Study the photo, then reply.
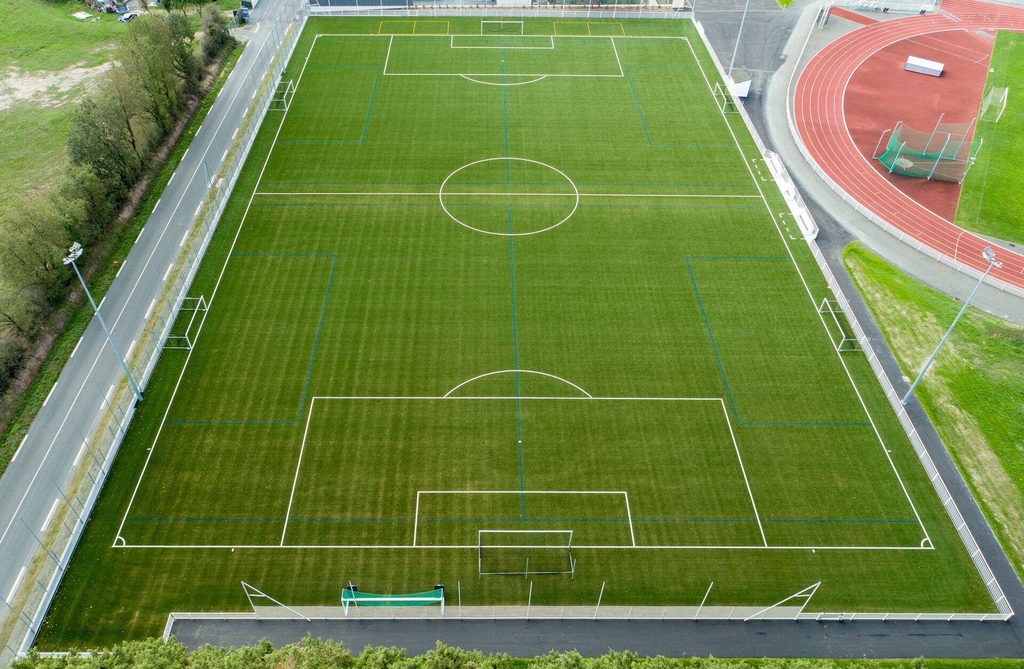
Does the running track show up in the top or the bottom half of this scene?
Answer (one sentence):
You can find the running track in the top half.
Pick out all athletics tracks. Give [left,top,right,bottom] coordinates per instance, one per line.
[794,13,1024,285]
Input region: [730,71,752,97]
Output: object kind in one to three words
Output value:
shed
